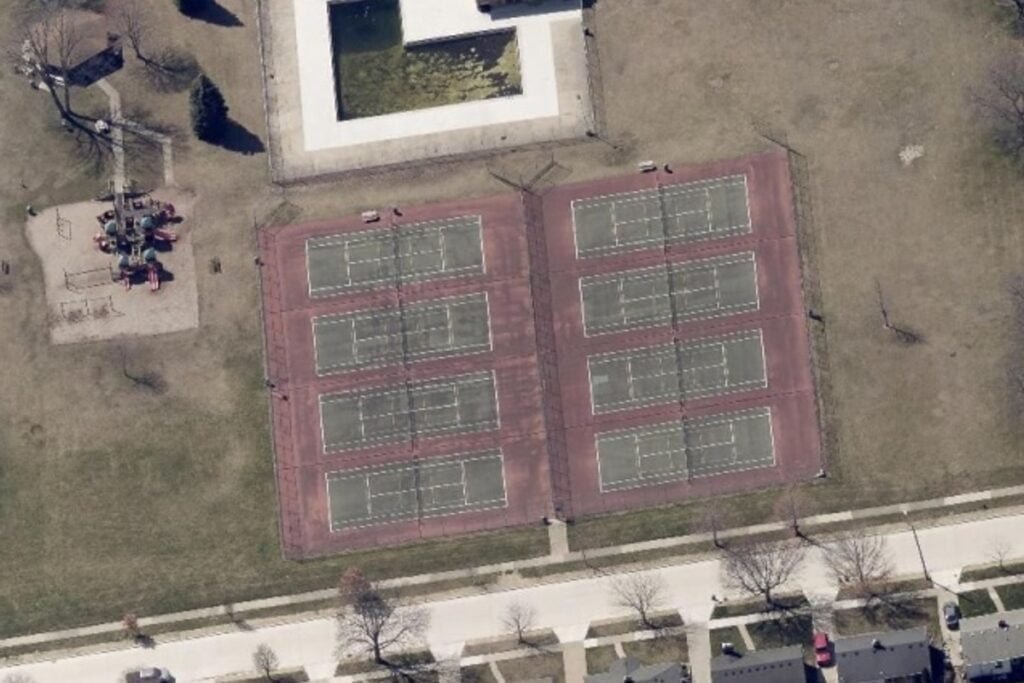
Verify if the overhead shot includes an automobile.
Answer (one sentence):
Yes, the frame does contain an automobile.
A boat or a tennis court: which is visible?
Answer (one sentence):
It is a tennis court that can be seen here.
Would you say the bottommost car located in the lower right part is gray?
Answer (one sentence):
No, from above the bottommost car located in the lower right part looks red.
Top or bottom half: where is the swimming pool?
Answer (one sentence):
You can find the swimming pool in the top half.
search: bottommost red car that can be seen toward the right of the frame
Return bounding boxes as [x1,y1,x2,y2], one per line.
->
[814,633,834,665]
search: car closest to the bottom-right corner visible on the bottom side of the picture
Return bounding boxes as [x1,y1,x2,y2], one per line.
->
[942,601,960,631]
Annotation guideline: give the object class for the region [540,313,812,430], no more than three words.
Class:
tennis court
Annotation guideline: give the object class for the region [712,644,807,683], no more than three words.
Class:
house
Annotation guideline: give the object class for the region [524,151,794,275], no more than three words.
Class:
tennis court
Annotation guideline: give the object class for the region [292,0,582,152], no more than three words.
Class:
swimming pool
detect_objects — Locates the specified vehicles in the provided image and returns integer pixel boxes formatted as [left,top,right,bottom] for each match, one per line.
[942,601,960,631]
[814,633,834,665]
[126,668,174,683]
